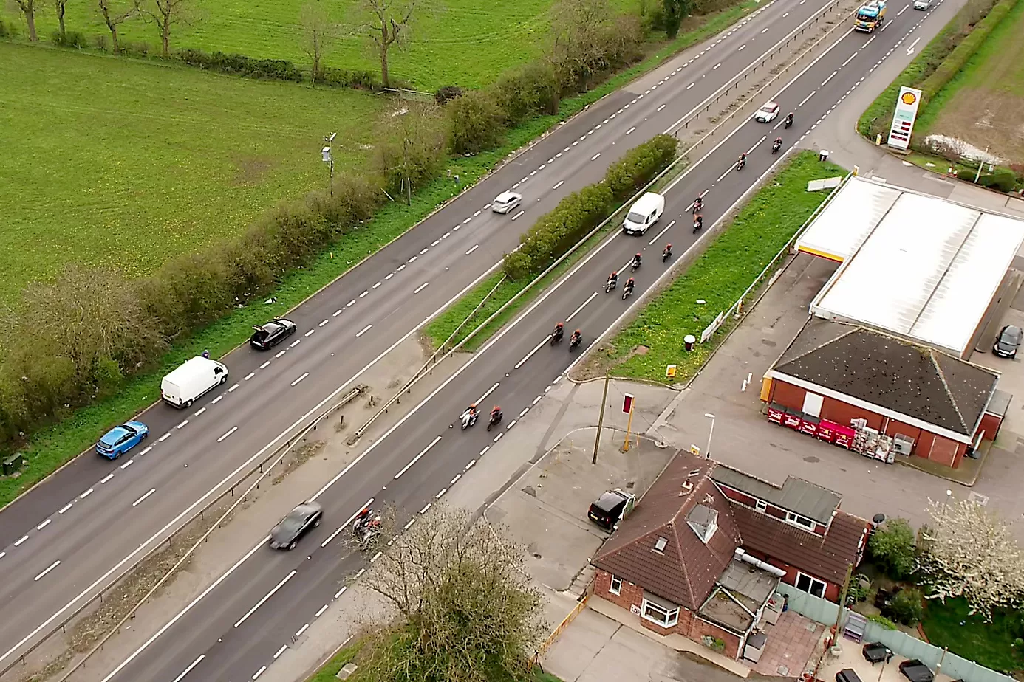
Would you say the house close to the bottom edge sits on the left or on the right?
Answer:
right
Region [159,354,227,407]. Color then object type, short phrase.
white van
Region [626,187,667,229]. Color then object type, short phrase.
white van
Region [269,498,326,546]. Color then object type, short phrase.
gray car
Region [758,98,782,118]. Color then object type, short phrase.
white car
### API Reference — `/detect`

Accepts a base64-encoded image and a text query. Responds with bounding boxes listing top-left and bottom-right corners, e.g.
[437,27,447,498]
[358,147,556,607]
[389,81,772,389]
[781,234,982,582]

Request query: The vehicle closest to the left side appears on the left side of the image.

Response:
[92,420,149,459]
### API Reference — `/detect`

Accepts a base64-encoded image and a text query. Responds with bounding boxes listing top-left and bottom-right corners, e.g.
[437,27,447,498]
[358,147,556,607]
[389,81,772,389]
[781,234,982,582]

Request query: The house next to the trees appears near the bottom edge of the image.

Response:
[585,449,885,662]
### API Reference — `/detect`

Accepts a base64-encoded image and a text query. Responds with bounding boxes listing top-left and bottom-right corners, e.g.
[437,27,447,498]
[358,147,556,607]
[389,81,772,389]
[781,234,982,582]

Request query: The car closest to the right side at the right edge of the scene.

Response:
[992,319,1023,351]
